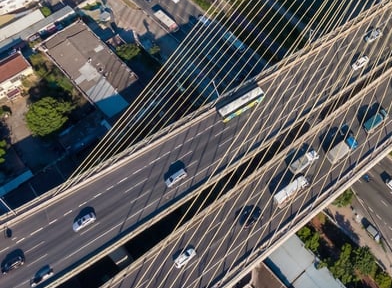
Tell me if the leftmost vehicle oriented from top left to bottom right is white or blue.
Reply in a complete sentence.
The leftmost vehicle oriented from top left to bottom right looks white in the image.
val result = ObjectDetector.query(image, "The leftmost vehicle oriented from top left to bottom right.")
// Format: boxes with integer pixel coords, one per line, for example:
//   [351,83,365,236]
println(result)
[151,7,176,30]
